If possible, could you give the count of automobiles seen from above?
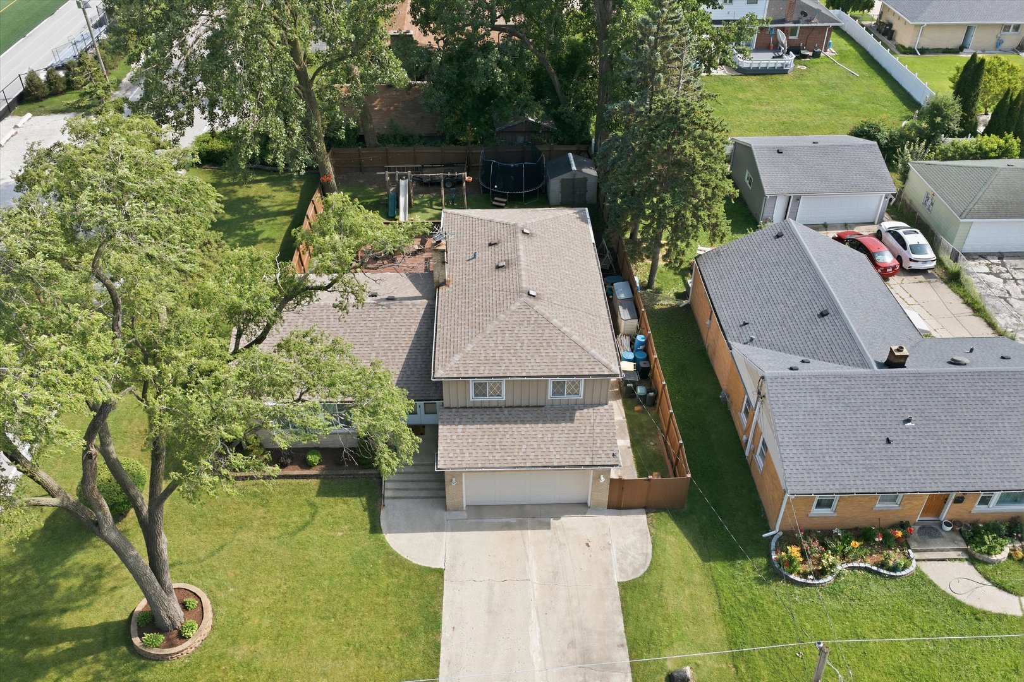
two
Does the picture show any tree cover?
Yes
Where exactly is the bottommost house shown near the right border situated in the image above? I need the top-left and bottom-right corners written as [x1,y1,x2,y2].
[681,220,1024,537]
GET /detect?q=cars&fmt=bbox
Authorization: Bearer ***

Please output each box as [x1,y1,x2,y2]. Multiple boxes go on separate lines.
[840,228,910,281]
[875,218,936,269]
